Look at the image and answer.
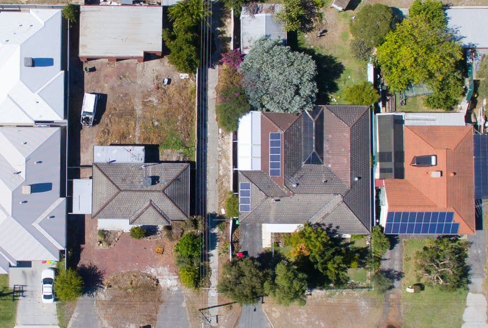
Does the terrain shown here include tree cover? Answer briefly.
Yes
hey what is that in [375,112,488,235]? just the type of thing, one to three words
house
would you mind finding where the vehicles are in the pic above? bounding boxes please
[81,91,98,125]
[40,268,55,302]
